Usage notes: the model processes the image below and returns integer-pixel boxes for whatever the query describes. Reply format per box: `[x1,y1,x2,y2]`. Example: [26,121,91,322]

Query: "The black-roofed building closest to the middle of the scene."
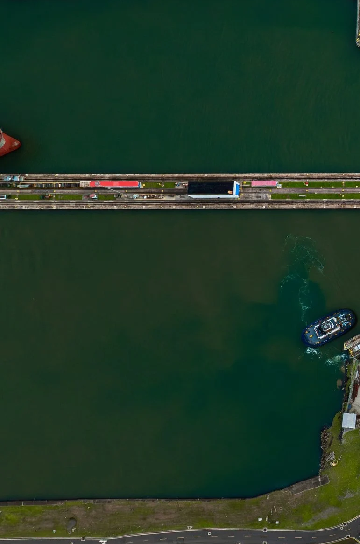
[187,181,239,197]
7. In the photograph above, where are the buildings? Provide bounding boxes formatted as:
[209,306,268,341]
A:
[90,181,144,188]
[252,180,279,187]
[342,413,358,429]
[187,181,239,197]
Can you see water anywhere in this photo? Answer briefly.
Yes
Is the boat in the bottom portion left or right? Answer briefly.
right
